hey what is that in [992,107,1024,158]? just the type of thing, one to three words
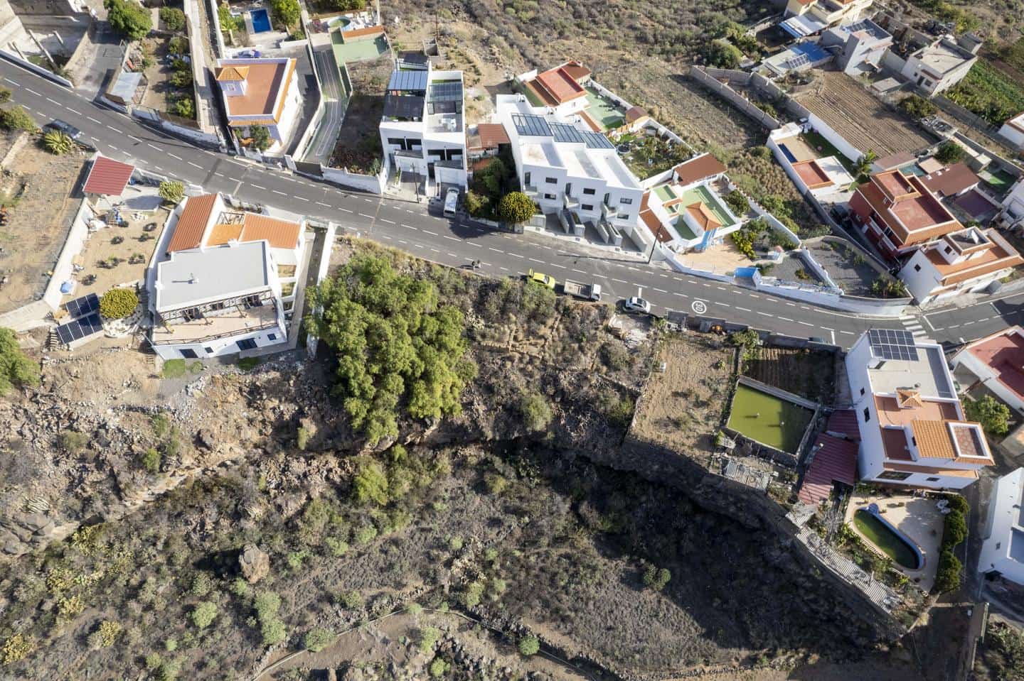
house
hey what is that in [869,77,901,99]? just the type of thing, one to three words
shed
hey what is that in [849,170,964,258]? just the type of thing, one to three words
house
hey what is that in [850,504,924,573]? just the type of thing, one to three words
swimming pool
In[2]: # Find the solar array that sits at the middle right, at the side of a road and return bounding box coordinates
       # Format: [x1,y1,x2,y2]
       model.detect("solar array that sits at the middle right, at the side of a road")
[868,329,919,362]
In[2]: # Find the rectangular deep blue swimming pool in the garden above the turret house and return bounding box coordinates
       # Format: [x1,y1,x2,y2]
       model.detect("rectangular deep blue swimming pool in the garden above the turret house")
[249,8,275,35]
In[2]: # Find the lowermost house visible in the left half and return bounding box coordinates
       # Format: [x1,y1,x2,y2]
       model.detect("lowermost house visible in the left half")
[150,193,313,359]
